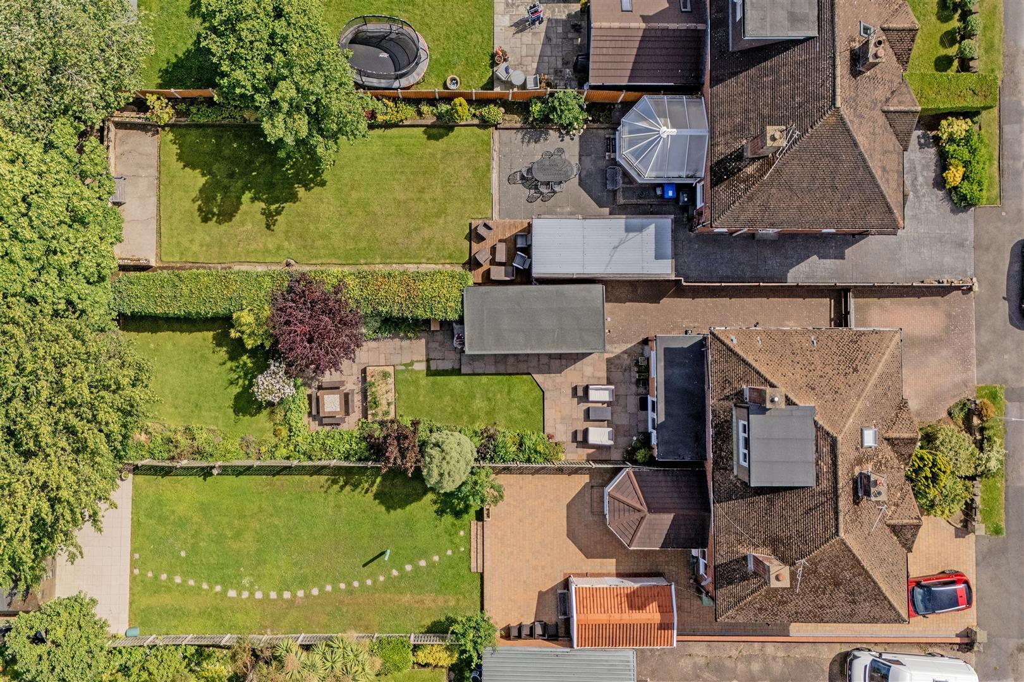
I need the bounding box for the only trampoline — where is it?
[338,14,431,90]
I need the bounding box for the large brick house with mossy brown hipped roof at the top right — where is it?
[692,0,922,249]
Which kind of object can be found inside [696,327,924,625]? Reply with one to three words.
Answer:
house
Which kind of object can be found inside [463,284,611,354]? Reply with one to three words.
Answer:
building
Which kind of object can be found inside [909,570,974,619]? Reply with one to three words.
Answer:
car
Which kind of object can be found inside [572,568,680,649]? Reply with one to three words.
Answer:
building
